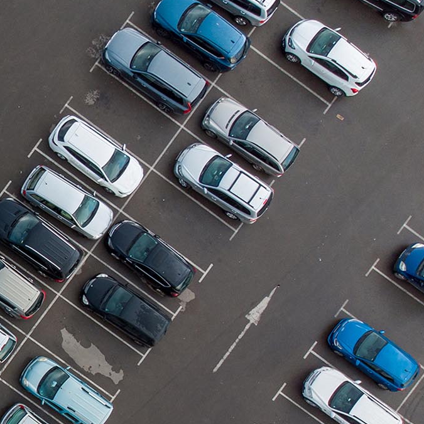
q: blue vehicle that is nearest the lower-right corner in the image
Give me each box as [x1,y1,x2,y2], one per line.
[324,316,424,393]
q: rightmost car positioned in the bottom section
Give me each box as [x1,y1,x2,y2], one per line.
[389,243,424,300]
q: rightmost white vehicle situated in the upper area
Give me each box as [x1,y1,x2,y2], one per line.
[278,14,383,99]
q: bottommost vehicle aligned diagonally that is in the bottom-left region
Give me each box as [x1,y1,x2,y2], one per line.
[18,355,119,424]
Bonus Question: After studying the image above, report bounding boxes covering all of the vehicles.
[99,29,208,118]
[299,364,412,424]
[18,159,113,243]
[79,272,175,351]
[213,0,283,28]
[373,0,424,20]
[102,217,201,300]
[171,143,278,226]
[198,97,304,181]
[0,254,47,323]
[18,355,119,424]
[0,197,85,283]
[0,399,53,424]
[148,0,253,75]
[389,243,424,300]
[45,112,143,199]
[278,14,383,99]
[324,316,424,393]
